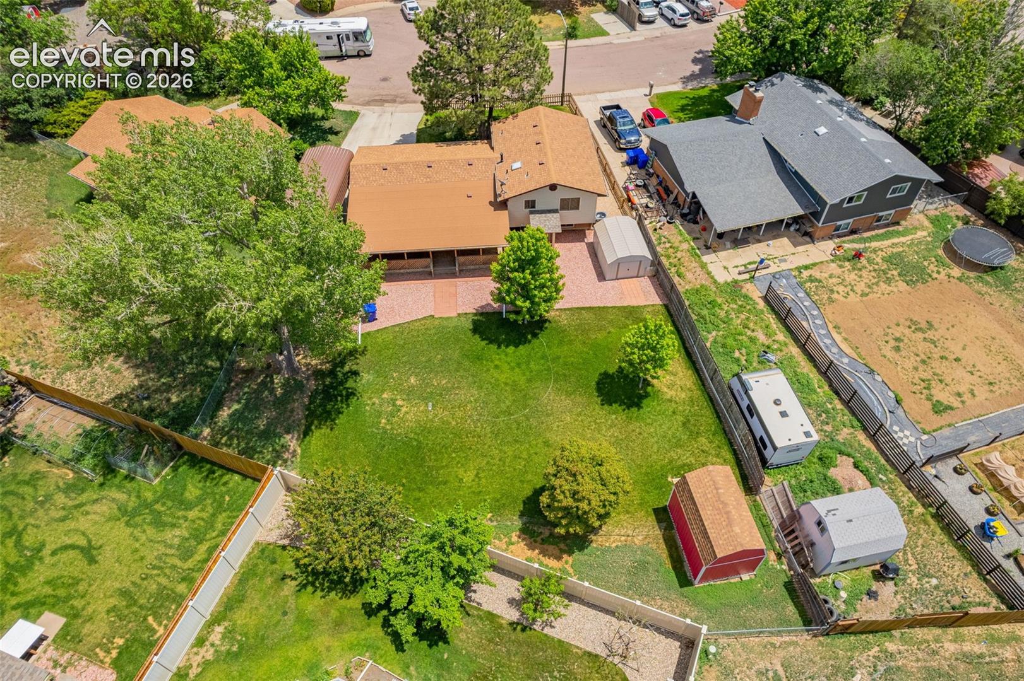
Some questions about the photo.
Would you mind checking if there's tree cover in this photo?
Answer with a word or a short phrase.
Yes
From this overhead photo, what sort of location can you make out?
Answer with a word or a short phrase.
residential area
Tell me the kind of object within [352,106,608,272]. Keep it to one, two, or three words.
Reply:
house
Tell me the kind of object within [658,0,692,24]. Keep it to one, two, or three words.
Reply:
car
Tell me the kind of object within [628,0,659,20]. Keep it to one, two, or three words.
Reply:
vehicle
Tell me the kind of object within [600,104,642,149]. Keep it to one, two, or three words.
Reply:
truck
